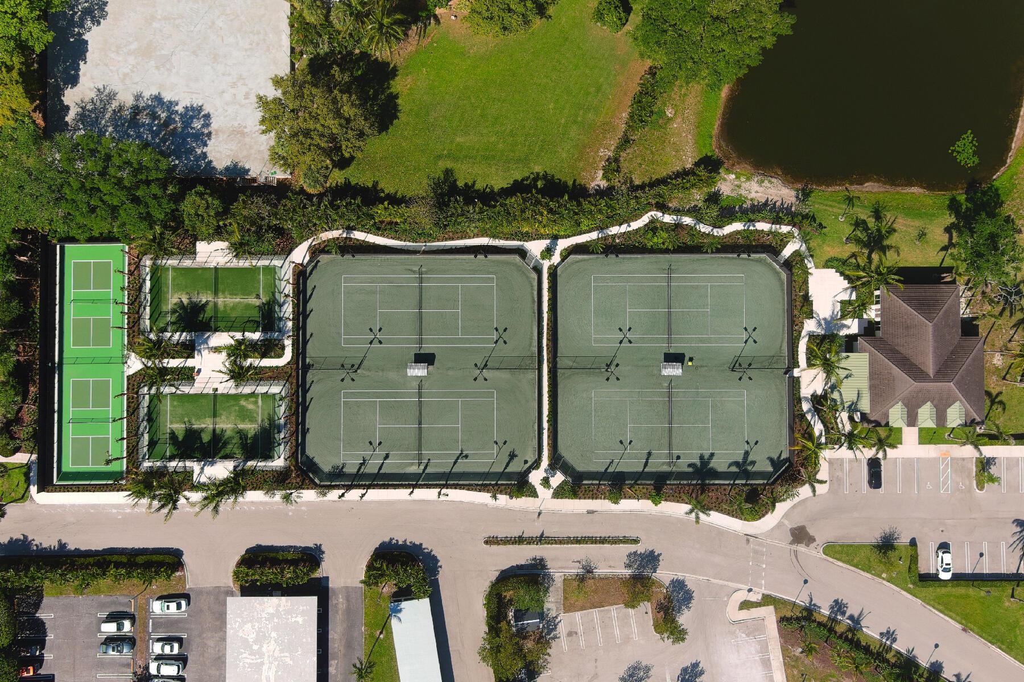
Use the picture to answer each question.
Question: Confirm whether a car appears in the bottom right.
Yes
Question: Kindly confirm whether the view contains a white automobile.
Yes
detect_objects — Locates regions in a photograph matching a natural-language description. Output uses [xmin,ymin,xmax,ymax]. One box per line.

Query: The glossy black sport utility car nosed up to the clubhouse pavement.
[865,457,883,489]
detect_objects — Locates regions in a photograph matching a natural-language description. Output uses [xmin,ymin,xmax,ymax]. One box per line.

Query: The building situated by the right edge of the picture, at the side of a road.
[829,284,986,428]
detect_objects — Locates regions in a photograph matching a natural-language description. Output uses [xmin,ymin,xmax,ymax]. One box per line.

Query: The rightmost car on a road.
[935,545,953,579]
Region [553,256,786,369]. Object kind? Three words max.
tennis court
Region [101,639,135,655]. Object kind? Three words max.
car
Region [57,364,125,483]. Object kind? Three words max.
sports court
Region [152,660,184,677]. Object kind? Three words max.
car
